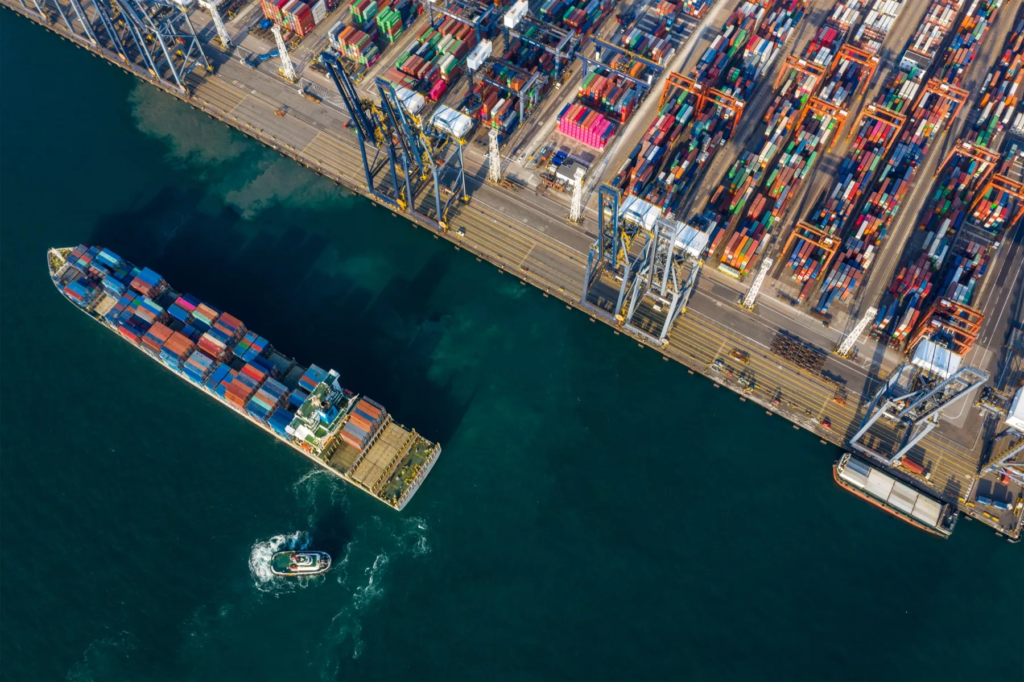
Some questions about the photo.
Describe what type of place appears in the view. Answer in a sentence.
The area seen from above is a port.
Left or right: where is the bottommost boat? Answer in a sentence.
You can find the bottommost boat on the left side of the picture.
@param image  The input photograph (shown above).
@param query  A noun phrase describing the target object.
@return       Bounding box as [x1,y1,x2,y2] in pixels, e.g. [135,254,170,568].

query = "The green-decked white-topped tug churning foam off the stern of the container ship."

[270,549,332,575]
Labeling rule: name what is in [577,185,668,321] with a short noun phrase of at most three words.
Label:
container crane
